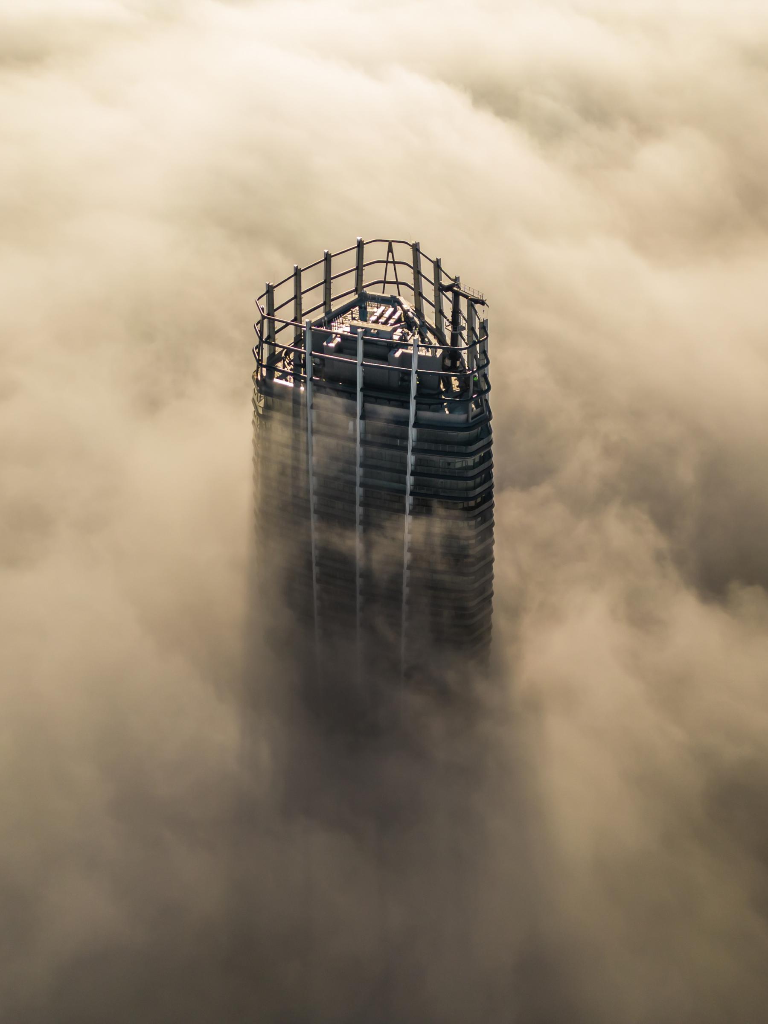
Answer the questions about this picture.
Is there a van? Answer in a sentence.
No, this view has no van in it.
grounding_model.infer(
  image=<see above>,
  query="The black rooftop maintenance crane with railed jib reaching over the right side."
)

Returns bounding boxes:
[439,275,491,369]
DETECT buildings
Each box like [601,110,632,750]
[253,235,492,1024]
